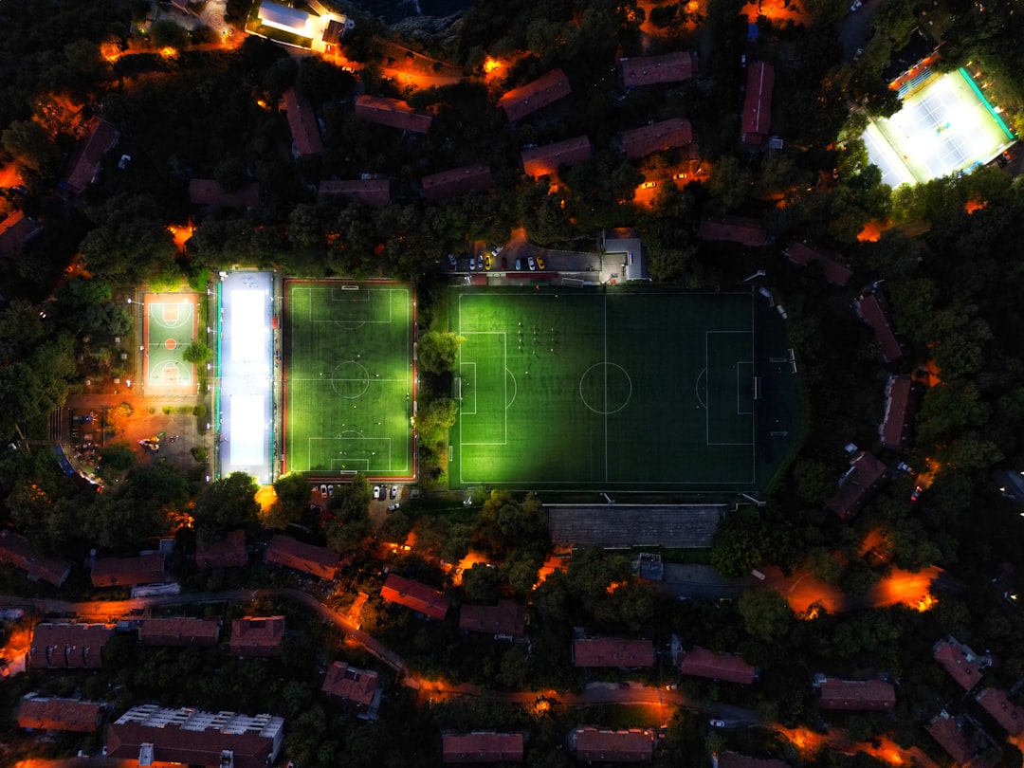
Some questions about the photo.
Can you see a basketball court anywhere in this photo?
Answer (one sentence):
Yes, I can see a basketball court in this picture.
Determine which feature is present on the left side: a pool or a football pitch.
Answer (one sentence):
Visible on the left side is a football pitch.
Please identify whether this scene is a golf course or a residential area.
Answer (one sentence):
This image shows a residential area.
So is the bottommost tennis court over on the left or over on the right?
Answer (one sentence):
The bottommost tennis court sits on the left side.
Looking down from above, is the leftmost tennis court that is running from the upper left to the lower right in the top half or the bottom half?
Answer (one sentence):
The leftmost tennis court that is running from the upper left to the lower right is in the top half of the image.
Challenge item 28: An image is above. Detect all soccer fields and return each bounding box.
[284,279,416,482]
[447,286,806,491]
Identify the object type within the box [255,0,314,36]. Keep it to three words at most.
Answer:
building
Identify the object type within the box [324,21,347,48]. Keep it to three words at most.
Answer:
building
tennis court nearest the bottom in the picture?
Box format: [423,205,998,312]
[219,378,273,484]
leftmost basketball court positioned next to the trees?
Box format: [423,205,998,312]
[144,294,197,395]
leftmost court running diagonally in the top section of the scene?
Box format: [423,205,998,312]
[827,102,916,207]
